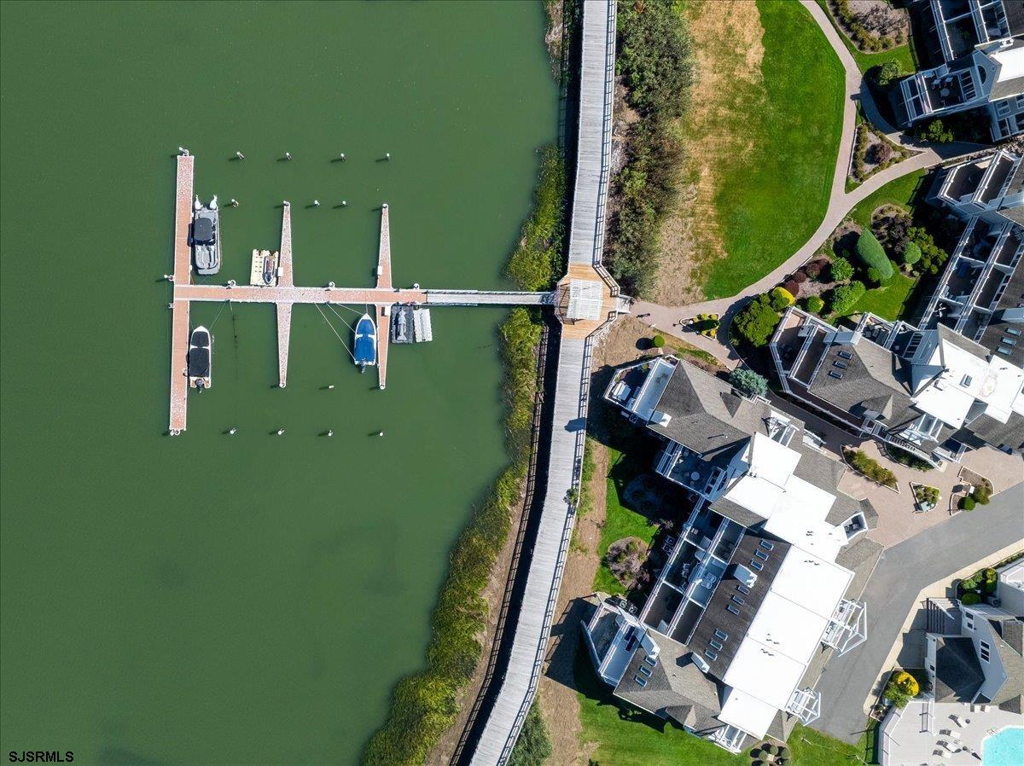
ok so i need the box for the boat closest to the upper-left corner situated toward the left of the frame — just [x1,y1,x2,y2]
[187,192,224,274]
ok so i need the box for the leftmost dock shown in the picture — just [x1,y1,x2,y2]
[170,156,427,429]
